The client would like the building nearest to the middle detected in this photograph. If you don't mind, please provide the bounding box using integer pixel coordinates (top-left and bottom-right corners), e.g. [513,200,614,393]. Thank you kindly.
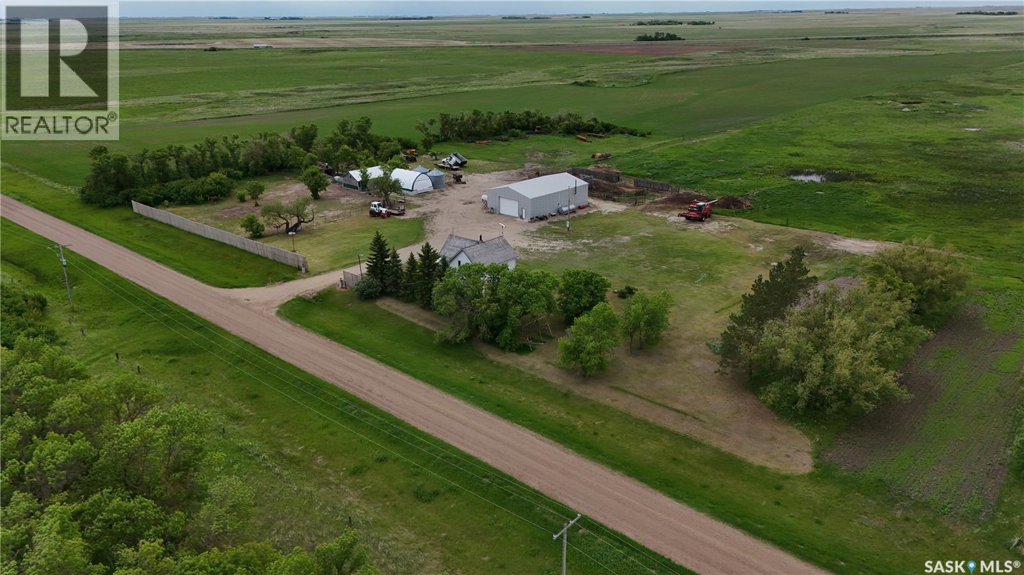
[440,223,519,277]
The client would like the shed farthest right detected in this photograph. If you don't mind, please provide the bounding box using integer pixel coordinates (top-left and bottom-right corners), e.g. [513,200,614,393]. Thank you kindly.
[486,173,591,222]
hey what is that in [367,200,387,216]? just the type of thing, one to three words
work vehicle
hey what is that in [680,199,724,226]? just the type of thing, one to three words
work vehicle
